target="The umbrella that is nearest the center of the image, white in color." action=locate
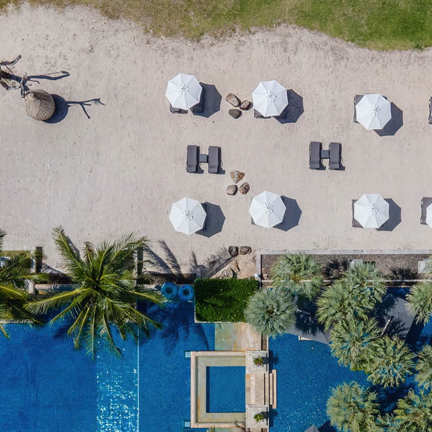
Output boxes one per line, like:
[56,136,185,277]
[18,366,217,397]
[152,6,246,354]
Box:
[170,198,206,235]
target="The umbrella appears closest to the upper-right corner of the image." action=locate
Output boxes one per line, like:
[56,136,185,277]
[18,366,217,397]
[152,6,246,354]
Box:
[355,94,392,131]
